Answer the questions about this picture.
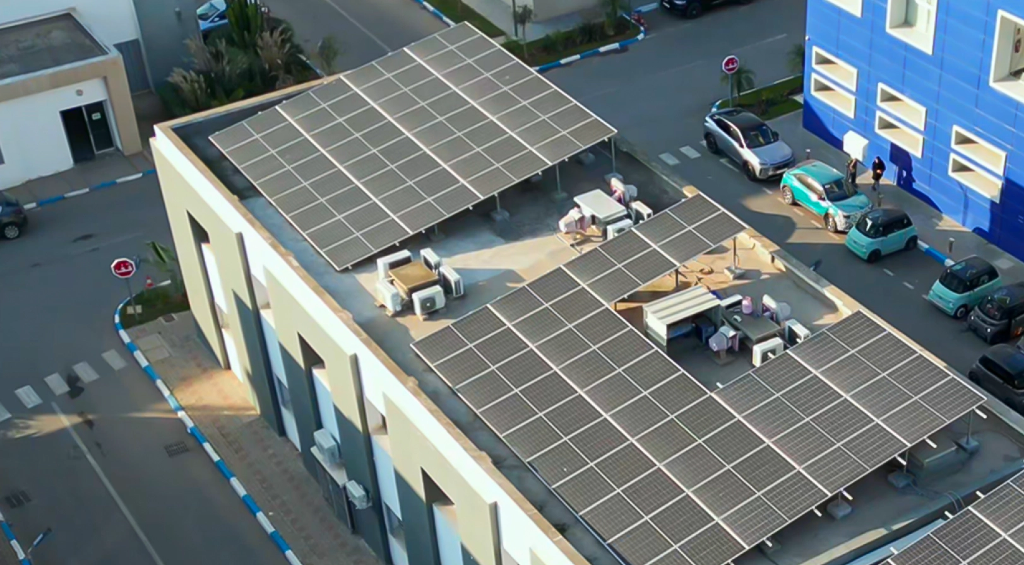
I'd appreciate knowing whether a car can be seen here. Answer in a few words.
Yes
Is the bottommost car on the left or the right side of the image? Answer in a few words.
right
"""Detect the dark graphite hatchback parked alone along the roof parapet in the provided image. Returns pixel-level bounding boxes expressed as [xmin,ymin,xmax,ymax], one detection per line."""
[969,335,1024,411]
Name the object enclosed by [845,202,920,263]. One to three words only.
car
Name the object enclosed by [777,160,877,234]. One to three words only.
car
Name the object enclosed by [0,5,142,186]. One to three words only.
building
